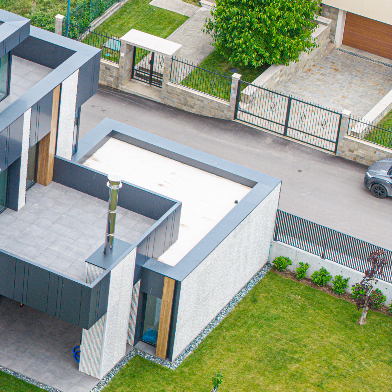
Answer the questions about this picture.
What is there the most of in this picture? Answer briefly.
buildings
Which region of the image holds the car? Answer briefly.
right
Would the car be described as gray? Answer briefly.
Yes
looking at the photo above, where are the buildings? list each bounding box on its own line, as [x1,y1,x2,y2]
[0,10,282,392]
[304,0,392,59]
